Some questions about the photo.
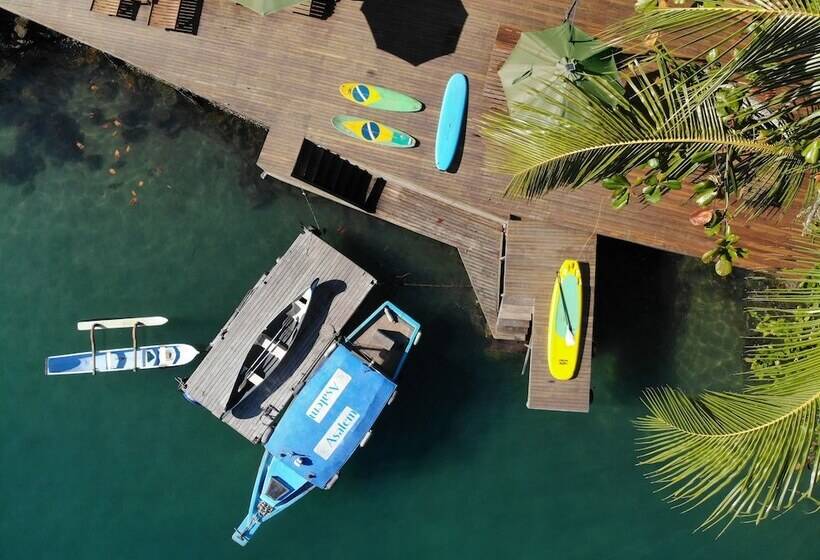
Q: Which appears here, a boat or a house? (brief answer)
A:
boat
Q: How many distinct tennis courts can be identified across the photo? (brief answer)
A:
0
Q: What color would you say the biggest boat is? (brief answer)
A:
blue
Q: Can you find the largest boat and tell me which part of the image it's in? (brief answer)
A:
bottom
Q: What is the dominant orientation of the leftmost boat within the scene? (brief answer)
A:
from side to side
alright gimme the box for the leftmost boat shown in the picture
[45,317,202,376]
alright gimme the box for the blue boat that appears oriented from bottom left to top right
[232,300,420,548]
